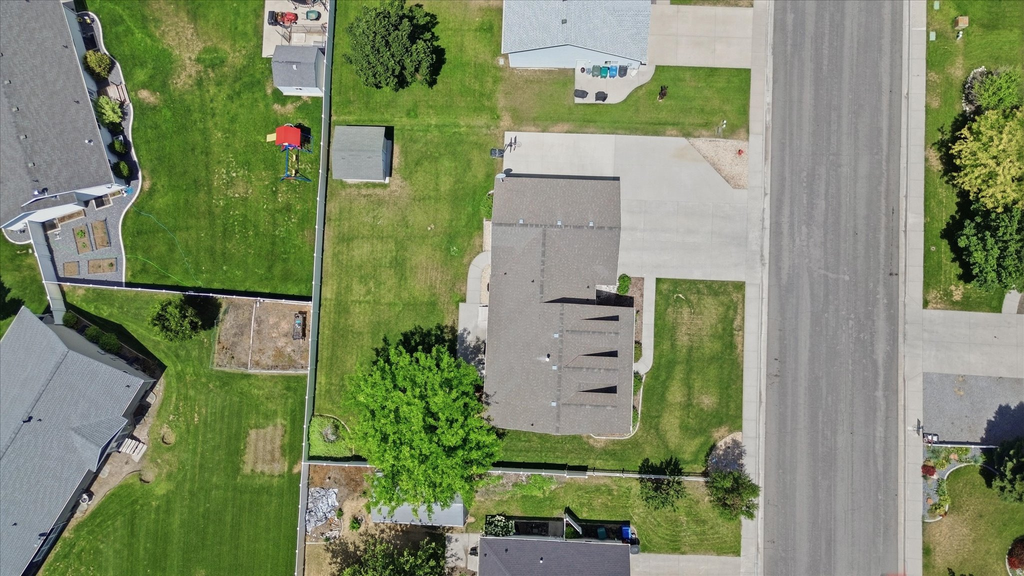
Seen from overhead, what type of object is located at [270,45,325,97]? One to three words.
shed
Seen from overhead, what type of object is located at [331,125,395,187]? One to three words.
shed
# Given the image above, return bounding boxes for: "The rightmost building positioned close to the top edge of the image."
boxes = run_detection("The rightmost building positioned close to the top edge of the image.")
[500,0,662,72]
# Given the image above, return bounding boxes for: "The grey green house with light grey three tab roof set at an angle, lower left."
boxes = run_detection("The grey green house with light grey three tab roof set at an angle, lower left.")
[0,302,158,576]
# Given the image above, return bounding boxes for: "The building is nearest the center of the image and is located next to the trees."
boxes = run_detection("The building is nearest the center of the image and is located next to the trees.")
[485,171,636,437]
